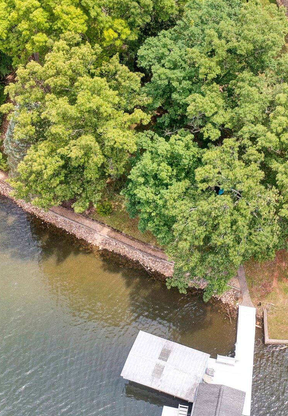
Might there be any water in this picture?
Yes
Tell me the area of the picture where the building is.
bottom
